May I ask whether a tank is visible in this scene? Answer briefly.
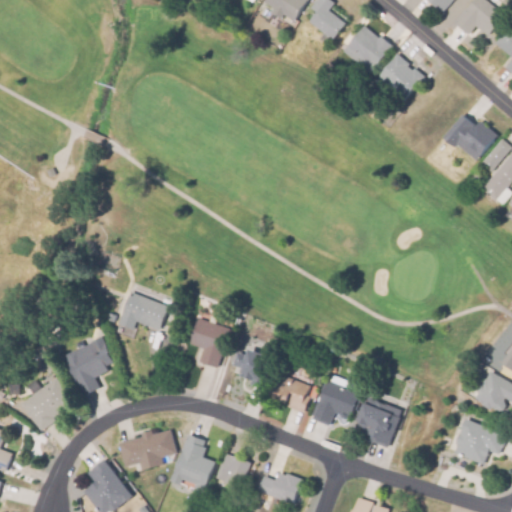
No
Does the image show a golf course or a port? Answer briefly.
golf course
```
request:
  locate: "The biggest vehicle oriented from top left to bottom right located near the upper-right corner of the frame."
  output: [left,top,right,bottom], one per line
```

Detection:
[422,42,436,56]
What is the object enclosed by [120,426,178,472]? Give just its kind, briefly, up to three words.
house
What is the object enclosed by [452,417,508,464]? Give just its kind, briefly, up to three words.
house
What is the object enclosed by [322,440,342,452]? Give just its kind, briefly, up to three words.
vehicle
